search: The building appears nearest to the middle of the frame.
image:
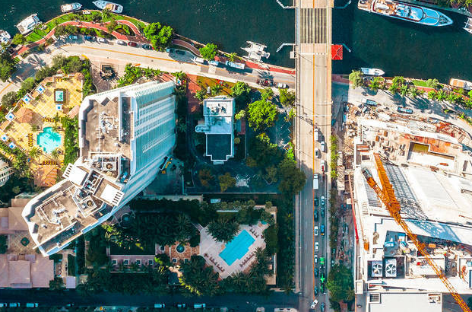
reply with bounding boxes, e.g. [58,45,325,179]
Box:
[196,98,238,164]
